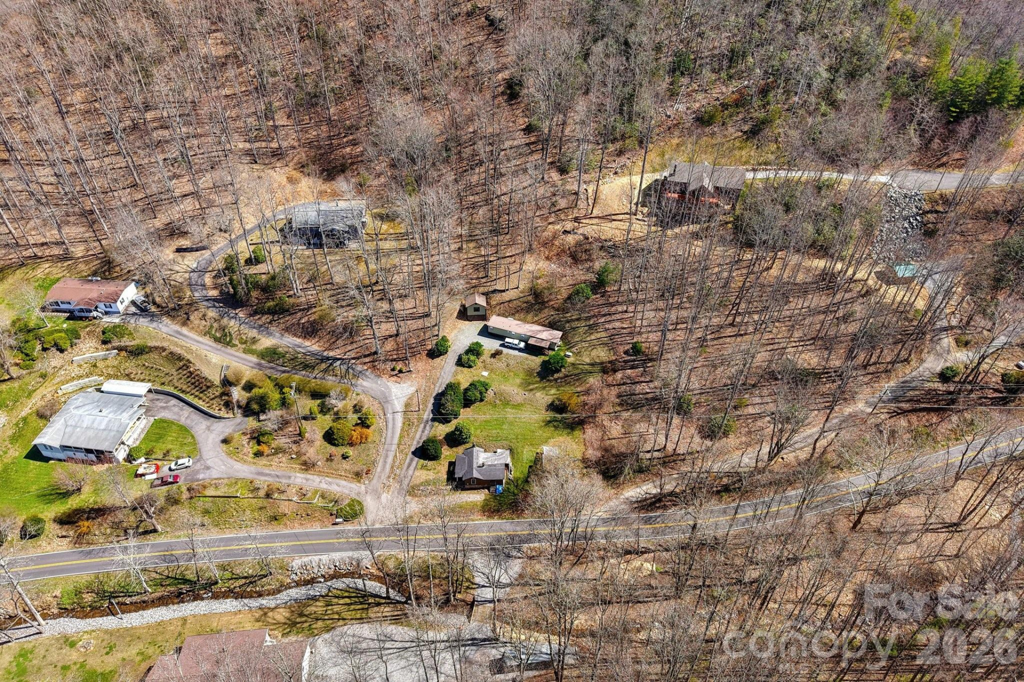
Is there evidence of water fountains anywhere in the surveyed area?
No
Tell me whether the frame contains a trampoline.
No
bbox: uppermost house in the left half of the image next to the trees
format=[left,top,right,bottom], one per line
[288,202,368,253]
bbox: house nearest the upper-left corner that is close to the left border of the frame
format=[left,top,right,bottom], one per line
[43,279,141,316]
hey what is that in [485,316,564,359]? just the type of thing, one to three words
house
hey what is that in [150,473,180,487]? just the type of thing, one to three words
vehicle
